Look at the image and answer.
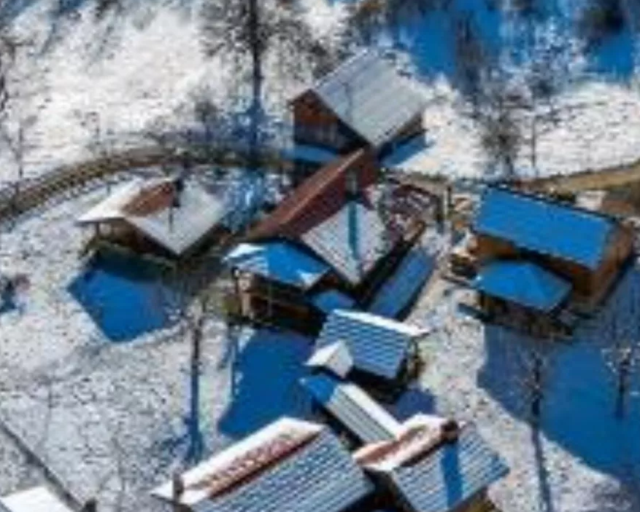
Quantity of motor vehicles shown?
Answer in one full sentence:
No motor vehicles are visible.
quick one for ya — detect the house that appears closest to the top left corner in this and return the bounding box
[84,163,228,288]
